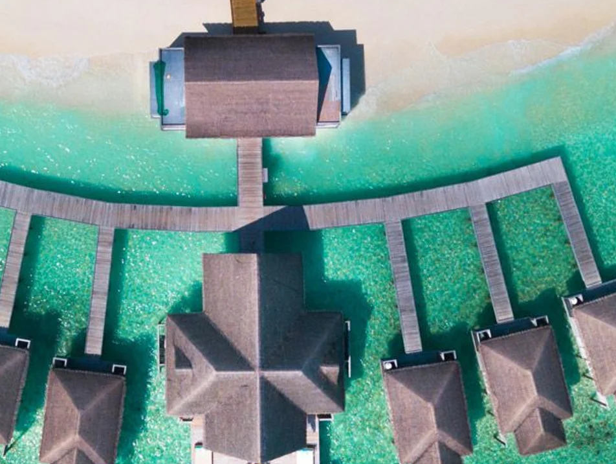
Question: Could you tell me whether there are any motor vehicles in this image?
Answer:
No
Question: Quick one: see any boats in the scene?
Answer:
No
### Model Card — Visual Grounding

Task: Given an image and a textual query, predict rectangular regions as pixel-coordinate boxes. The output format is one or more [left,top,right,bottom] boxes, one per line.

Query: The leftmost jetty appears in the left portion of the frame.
[0,208,33,335]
